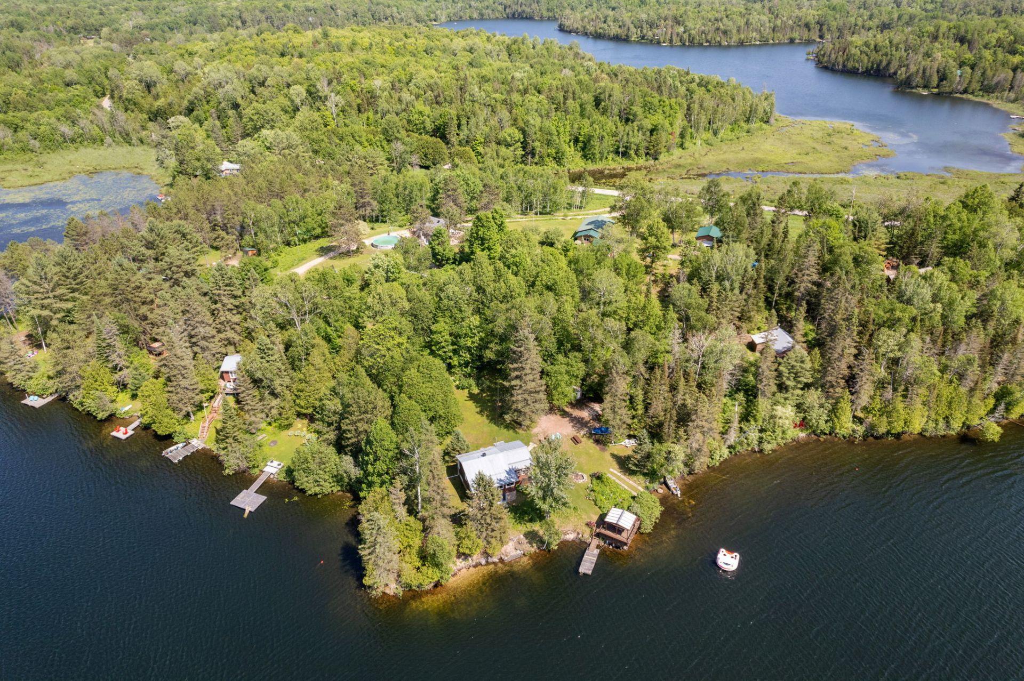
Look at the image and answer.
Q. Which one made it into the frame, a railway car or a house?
house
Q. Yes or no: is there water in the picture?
Yes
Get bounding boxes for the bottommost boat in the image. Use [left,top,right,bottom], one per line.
[665,476,684,498]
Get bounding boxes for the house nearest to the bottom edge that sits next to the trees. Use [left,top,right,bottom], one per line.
[448,433,542,511]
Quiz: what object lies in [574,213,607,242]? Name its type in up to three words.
building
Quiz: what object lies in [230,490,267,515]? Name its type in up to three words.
pier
